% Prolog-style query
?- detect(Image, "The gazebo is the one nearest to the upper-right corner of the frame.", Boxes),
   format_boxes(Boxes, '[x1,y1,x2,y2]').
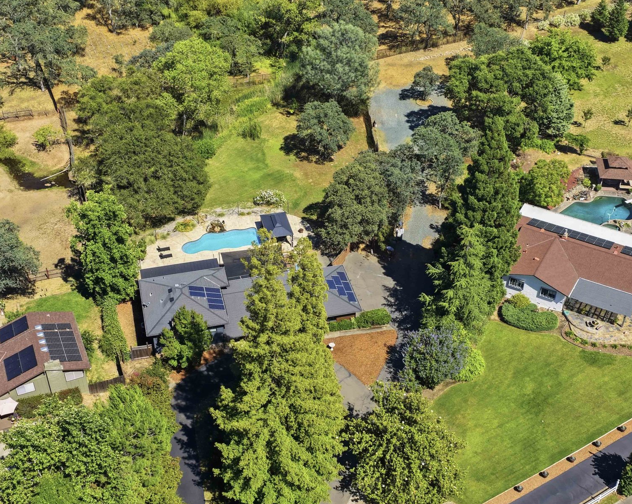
[594,155,632,194]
